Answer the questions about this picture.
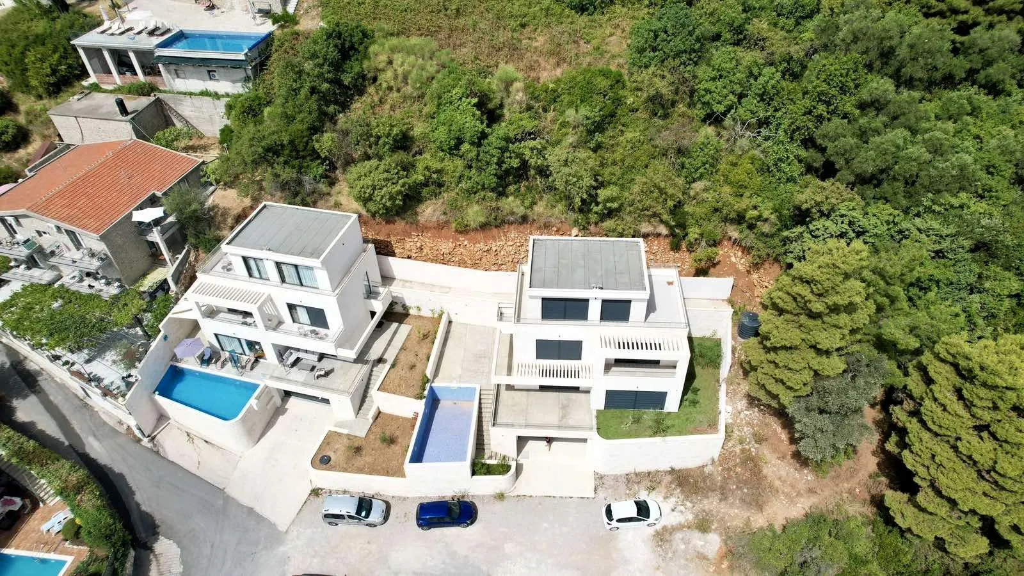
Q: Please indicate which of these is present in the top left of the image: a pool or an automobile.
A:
pool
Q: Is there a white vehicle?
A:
Yes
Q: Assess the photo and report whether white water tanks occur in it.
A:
No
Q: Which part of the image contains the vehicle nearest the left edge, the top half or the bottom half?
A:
bottom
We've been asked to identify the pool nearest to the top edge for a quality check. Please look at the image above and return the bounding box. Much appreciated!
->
[158,25,274,70]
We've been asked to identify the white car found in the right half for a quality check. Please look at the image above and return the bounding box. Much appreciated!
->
[601,495,663,532]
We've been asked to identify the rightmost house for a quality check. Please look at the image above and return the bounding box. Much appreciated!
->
[491,236,692,461]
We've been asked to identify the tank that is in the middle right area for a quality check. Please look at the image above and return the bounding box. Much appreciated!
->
[740,314,764,342]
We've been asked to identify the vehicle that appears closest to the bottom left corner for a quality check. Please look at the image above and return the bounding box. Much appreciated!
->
[321,493,389,529]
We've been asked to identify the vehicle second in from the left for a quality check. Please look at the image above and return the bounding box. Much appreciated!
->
[417,497,476,533]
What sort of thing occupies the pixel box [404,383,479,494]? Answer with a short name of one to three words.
swimming pool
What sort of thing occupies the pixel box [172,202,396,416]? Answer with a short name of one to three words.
house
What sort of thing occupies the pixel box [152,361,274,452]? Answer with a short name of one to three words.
swimming pool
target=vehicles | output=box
[321,493,389,529]
[601,495,663,532]
[417,497,476,533]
